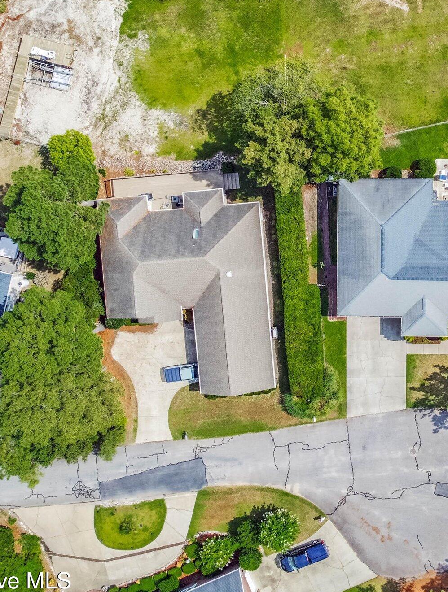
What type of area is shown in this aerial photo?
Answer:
residential area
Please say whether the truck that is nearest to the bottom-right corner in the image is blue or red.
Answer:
blue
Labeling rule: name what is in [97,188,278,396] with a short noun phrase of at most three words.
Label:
house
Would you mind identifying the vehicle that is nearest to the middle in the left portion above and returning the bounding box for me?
[158,363,199,388]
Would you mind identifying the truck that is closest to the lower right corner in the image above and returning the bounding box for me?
[273,542,331,579]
